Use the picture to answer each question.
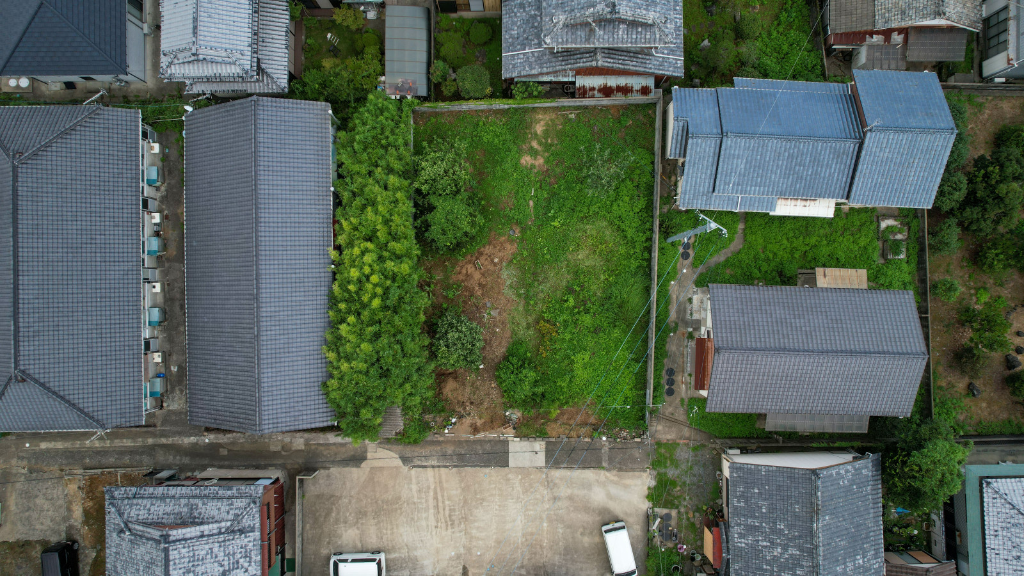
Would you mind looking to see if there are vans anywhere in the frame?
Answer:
Yes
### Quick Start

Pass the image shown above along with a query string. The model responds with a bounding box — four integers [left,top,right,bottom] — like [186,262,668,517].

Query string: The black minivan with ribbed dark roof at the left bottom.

[41,536,83,576]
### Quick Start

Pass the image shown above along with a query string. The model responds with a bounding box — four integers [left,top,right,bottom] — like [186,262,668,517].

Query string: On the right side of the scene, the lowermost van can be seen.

[602,522,638,576]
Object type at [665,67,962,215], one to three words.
house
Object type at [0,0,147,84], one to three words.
house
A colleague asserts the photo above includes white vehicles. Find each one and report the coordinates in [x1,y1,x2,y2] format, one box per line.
[602,522,638,576]
[330,554,387,576]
